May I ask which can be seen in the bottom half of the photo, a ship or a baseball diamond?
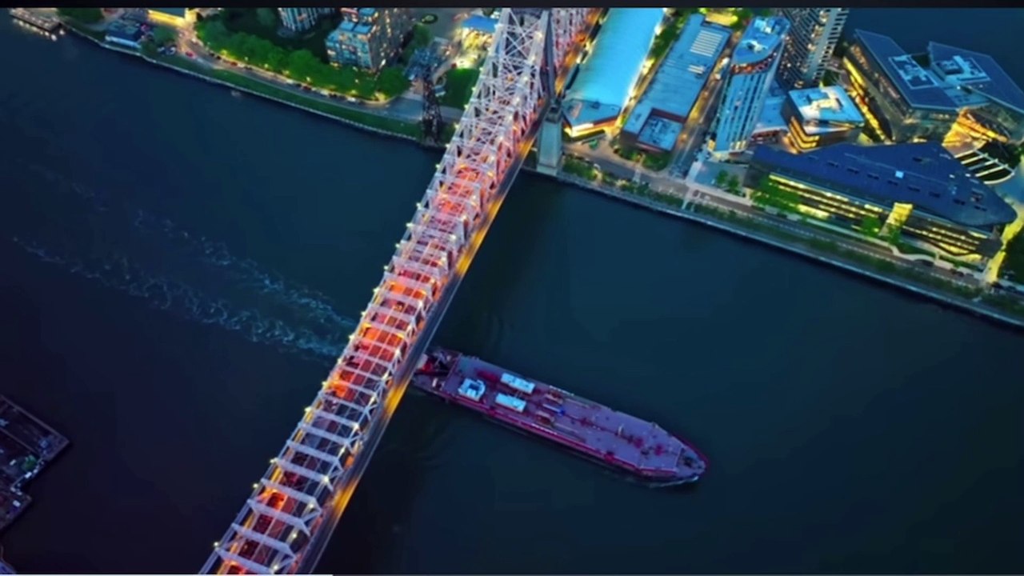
ship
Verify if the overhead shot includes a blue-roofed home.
Yes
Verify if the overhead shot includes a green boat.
No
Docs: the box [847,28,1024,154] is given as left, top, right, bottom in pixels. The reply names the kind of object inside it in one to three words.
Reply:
building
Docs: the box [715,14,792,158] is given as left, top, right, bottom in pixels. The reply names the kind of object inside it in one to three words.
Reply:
building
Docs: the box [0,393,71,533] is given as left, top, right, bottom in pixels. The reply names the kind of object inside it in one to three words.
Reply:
pier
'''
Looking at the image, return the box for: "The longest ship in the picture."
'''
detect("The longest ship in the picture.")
[413,346,706,480]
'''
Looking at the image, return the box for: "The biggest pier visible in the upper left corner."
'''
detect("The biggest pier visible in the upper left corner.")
[9,7,63,38]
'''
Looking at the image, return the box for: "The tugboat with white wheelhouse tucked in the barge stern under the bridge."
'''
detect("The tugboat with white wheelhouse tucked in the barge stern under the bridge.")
[416,346,452,380]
